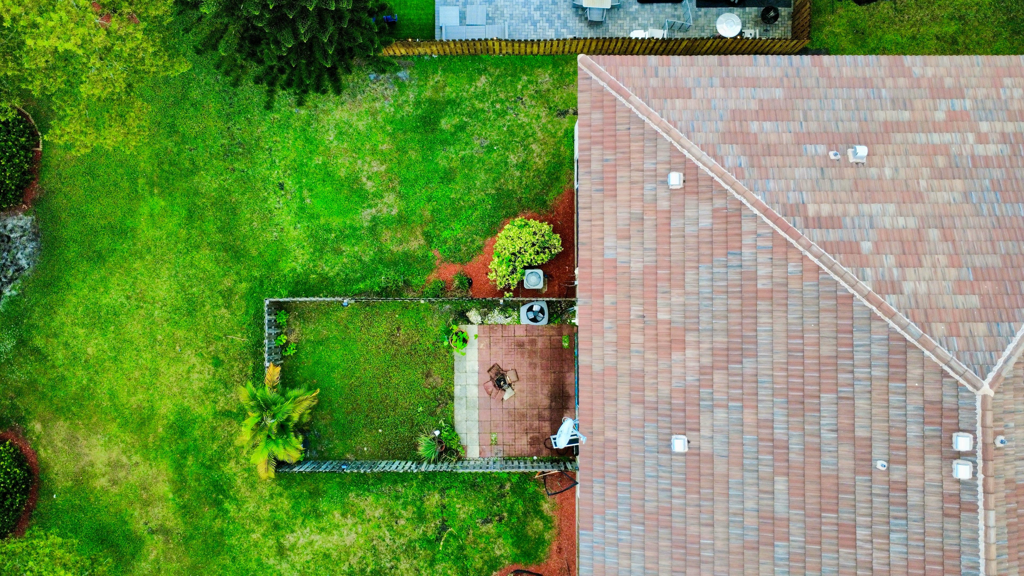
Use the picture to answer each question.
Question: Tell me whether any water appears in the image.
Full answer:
No, the scene doesn't show any water.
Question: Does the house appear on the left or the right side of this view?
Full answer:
The house appears in the right half of the scene.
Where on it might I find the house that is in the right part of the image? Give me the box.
[557,52,1024,576]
